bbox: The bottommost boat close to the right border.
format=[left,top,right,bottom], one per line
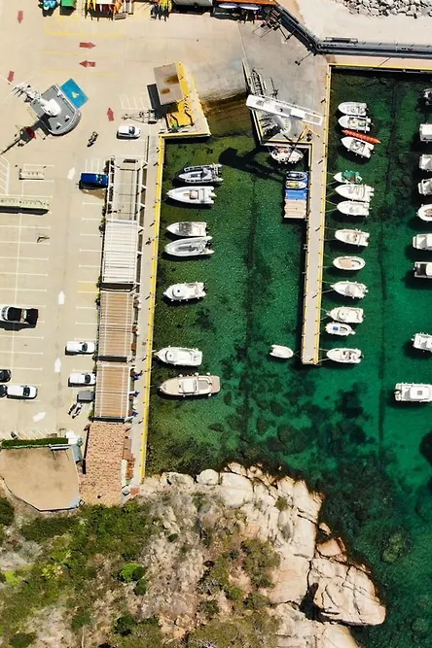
[391,381,432,403]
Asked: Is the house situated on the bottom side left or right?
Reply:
left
